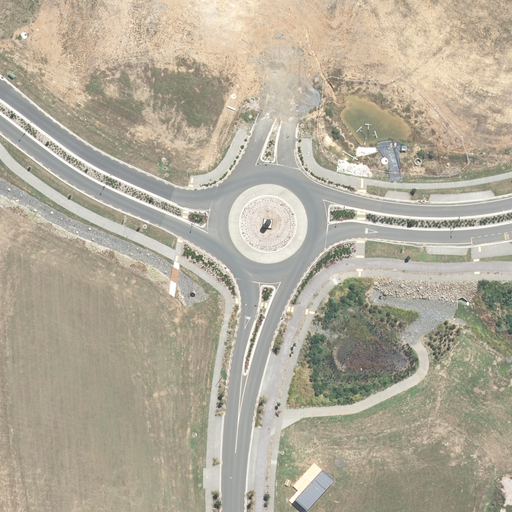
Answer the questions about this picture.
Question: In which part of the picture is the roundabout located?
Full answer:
The roundabout appears toward the center of the photo.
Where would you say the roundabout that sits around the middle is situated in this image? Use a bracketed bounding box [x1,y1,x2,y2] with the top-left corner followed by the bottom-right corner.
[194,150,340,302]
